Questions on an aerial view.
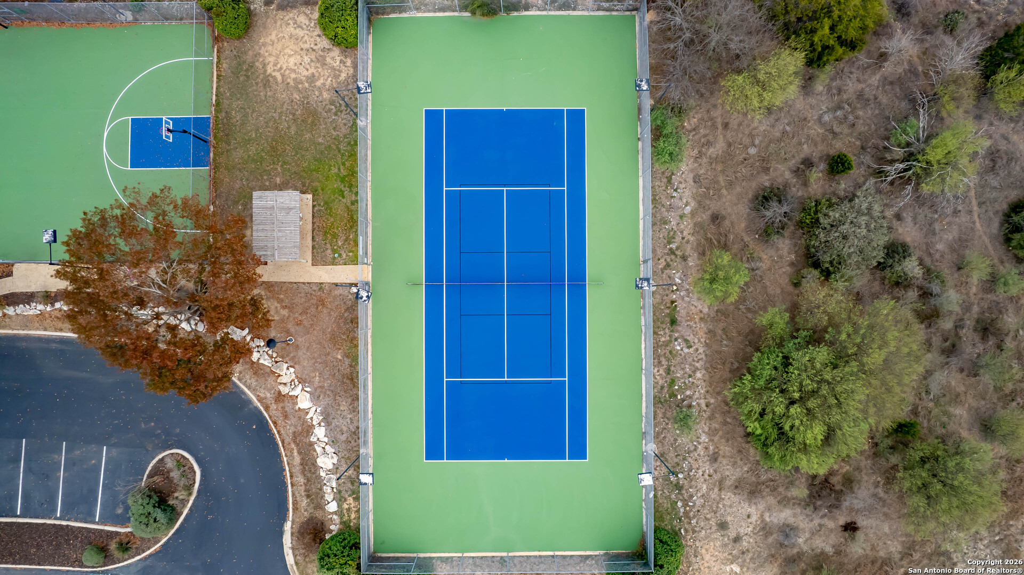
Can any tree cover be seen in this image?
Yes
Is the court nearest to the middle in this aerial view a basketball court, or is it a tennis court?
tennis court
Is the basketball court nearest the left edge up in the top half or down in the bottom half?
top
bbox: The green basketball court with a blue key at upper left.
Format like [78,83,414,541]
[0,19,216,259]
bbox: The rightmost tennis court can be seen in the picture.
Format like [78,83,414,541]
[367,9,646,559]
